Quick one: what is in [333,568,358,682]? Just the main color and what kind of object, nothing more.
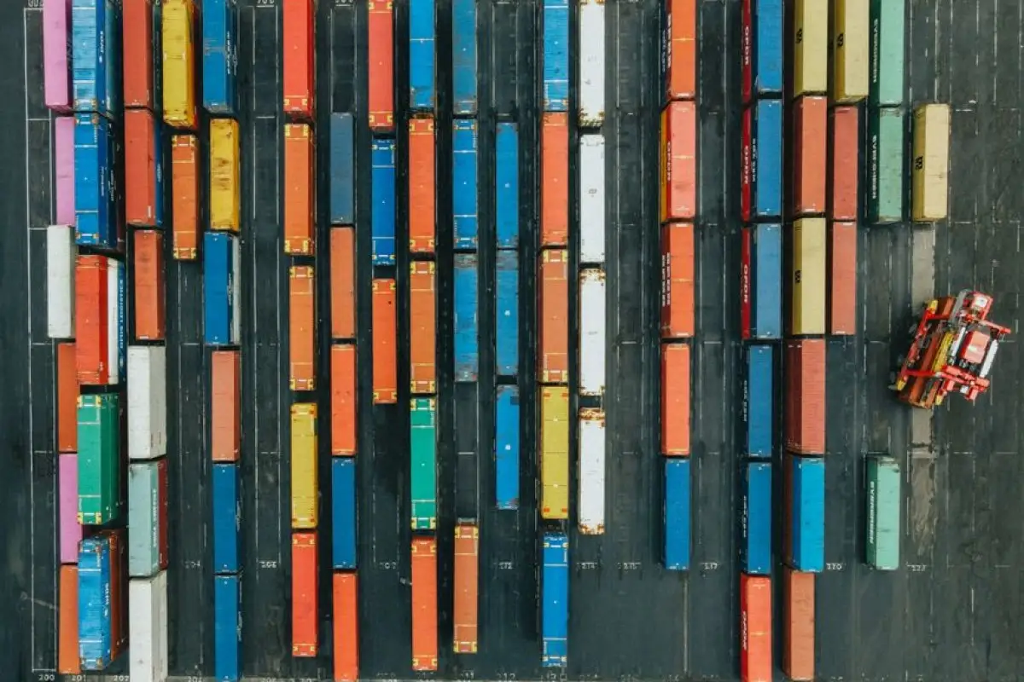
orange shipping container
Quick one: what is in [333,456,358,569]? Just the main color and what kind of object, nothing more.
blue shipping container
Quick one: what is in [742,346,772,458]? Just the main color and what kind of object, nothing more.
blue shipping container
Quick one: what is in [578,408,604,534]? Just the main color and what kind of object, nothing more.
white shipping container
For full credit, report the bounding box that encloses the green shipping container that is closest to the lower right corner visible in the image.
[867,457,900,571]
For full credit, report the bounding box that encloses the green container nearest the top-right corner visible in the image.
[870,0,904,110]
